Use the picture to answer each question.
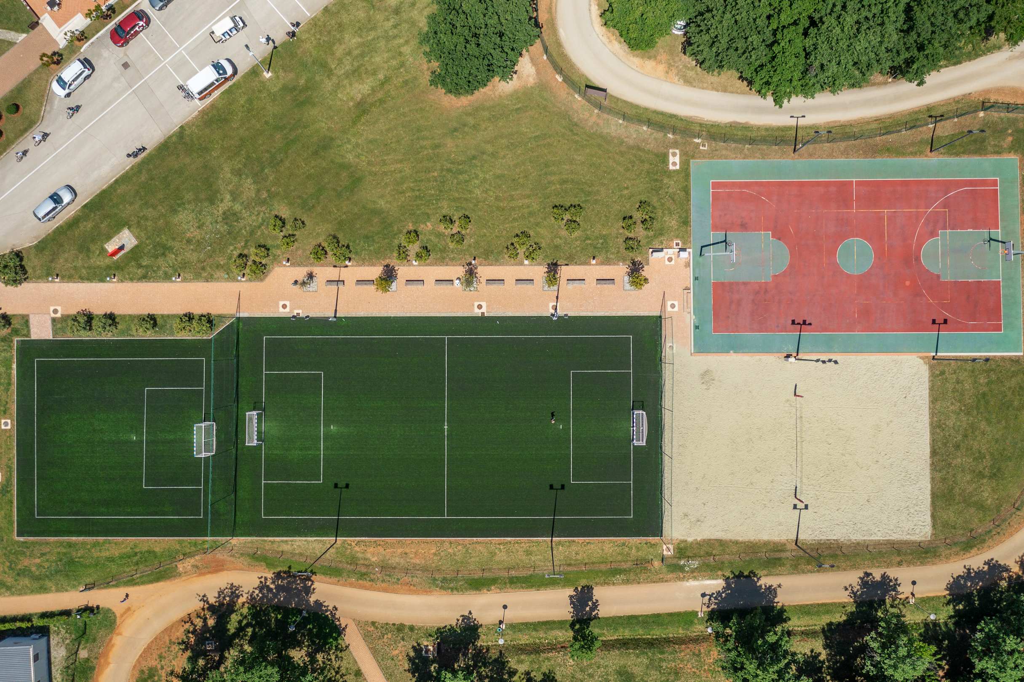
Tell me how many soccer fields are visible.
2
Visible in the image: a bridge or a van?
van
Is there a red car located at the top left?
Yes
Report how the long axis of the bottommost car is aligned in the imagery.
diagonally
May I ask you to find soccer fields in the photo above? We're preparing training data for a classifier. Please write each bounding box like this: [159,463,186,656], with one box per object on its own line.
[14,317,237,540]
[233,317,662,539]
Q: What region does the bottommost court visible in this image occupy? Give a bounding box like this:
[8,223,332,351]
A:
[661,347,932,540]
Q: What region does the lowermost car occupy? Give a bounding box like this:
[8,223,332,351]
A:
[33,184,81,223]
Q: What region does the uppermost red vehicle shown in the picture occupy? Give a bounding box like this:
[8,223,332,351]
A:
[110,8,152,48]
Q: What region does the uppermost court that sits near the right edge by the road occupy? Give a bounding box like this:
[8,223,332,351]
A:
[690,157,1024,356]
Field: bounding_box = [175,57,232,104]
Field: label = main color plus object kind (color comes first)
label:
white van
